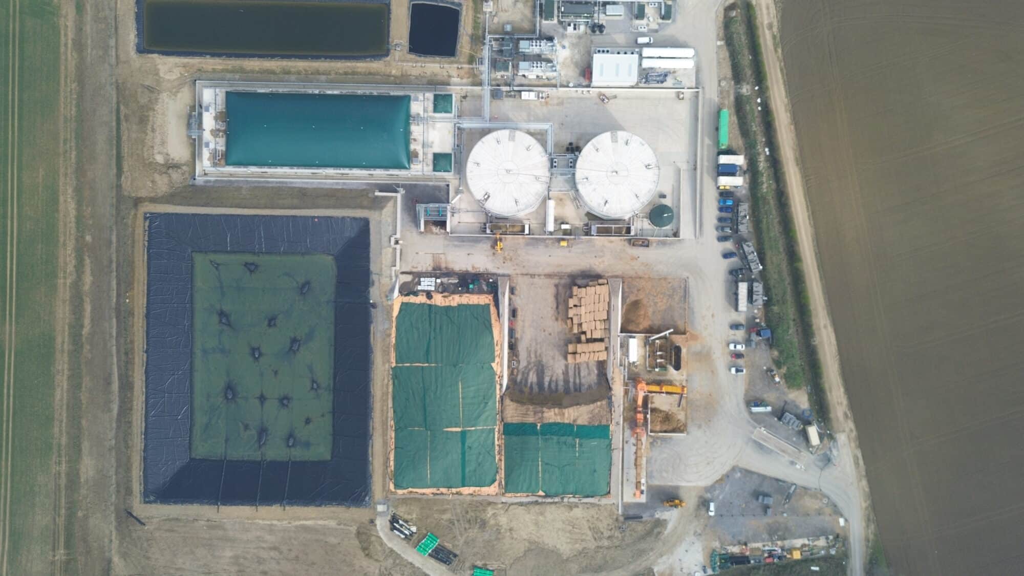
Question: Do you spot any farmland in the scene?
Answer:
Yes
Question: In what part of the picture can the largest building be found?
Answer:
top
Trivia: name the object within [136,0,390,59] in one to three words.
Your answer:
pond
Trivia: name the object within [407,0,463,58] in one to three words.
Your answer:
pond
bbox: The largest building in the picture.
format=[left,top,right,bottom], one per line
[591,54,639,87]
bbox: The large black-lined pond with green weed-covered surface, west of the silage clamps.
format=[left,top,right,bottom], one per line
[144,213,372,512]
